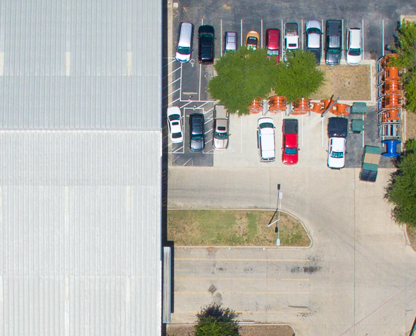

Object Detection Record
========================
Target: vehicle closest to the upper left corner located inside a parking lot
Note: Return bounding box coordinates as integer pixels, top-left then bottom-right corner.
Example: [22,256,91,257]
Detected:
[174,23,193,64]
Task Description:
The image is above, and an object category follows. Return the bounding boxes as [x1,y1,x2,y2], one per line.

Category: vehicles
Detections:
[344,27,362,67]
[212,105,230,151]
[166,107,183,145]
[256,118,276,164]
[222,32,237,67]
[197,26,215,66]
[174,23,193,64]
[326,115,348,172]
[245,31,259,55]
[280,118,300,166]
[283,23,301,60]
[324,19,343,67]
[188,113,205,153]
[264,28,283,69]
[303,22,324,63]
